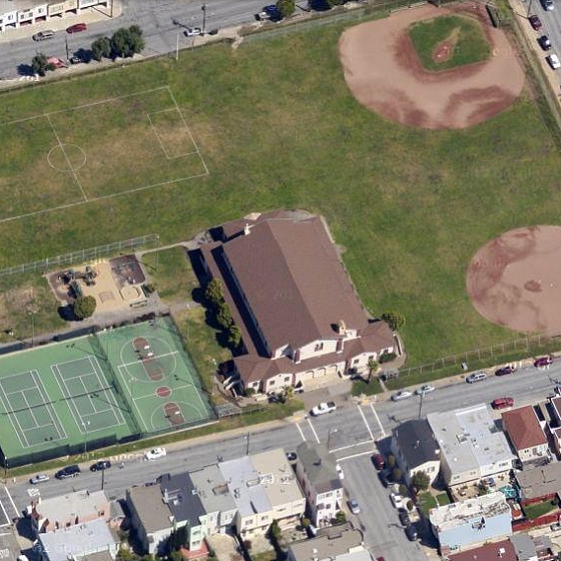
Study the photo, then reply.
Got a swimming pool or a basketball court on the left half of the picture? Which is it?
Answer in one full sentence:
Looking on the left half of the picture, you will find a basketball court.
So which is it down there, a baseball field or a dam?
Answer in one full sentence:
This aerial view contains a baseball field.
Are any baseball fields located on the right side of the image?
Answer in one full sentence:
Yes, a baseball field appears on the right side of the image.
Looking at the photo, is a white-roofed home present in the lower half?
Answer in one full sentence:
Yes, a white-roofed home can be seen in the lower half.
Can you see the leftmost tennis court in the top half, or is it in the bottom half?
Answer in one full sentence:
Seen from above, the leftmost tennis court lies in the bottom half of the view.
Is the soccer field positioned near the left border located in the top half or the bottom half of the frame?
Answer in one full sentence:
The top half of the photo is where the soccer field positioned near the left border is.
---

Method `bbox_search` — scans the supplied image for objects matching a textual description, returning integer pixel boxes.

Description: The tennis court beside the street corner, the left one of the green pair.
[0,369,66,448]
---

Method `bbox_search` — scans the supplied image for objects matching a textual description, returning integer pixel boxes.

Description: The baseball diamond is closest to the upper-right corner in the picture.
[340,0,525,129]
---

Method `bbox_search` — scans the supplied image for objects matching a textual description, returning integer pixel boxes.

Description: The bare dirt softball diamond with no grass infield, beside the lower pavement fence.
[466,224,561,332]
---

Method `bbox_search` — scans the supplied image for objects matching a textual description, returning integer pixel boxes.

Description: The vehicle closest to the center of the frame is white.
[311,402,335,415]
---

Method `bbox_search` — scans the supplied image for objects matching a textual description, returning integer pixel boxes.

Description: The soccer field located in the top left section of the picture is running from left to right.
[0,85,209,221]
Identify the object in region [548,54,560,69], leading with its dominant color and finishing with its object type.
white vehicle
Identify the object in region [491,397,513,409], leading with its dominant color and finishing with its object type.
red vehicle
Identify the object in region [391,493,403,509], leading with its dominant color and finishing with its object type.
white vehicle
